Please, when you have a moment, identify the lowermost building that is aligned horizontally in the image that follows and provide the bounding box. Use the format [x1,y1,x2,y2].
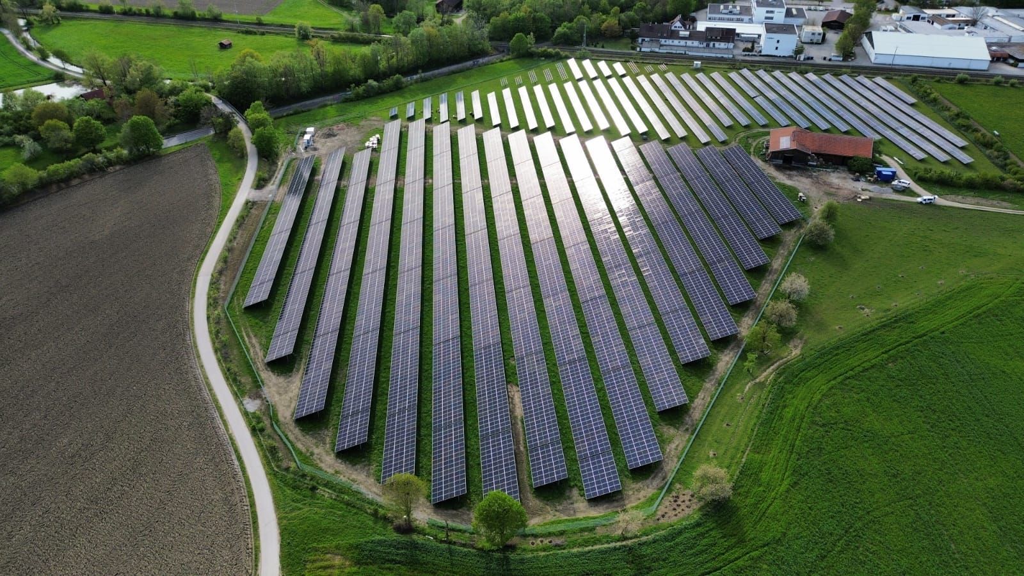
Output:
[769,124,873,166]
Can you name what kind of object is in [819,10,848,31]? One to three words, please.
shed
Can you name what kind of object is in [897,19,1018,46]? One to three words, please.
building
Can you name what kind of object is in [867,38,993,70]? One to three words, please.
building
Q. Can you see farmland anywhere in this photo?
Yes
